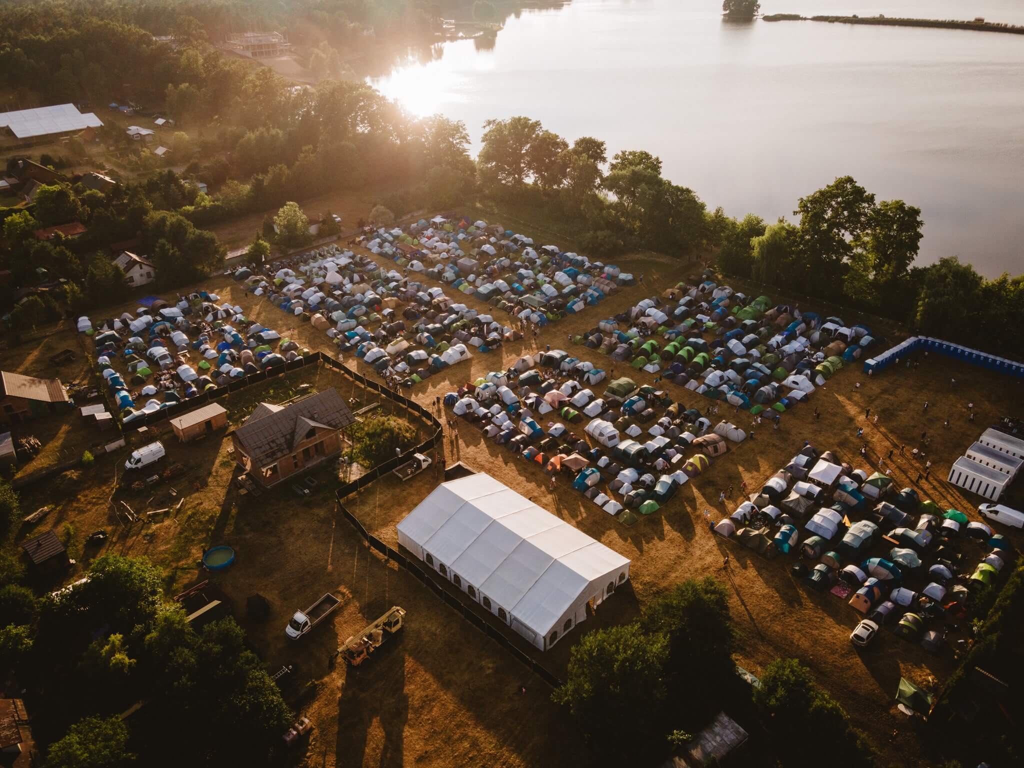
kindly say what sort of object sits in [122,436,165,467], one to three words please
van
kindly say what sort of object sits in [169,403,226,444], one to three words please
shed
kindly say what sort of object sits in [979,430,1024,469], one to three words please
building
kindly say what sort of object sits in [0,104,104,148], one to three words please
tent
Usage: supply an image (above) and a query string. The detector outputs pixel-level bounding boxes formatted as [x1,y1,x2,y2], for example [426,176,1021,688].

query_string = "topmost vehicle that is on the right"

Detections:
[985,502,1024,528]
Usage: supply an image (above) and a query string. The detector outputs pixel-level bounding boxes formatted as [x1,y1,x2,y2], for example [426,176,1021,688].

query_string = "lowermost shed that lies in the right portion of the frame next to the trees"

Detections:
[680,699,755,768]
